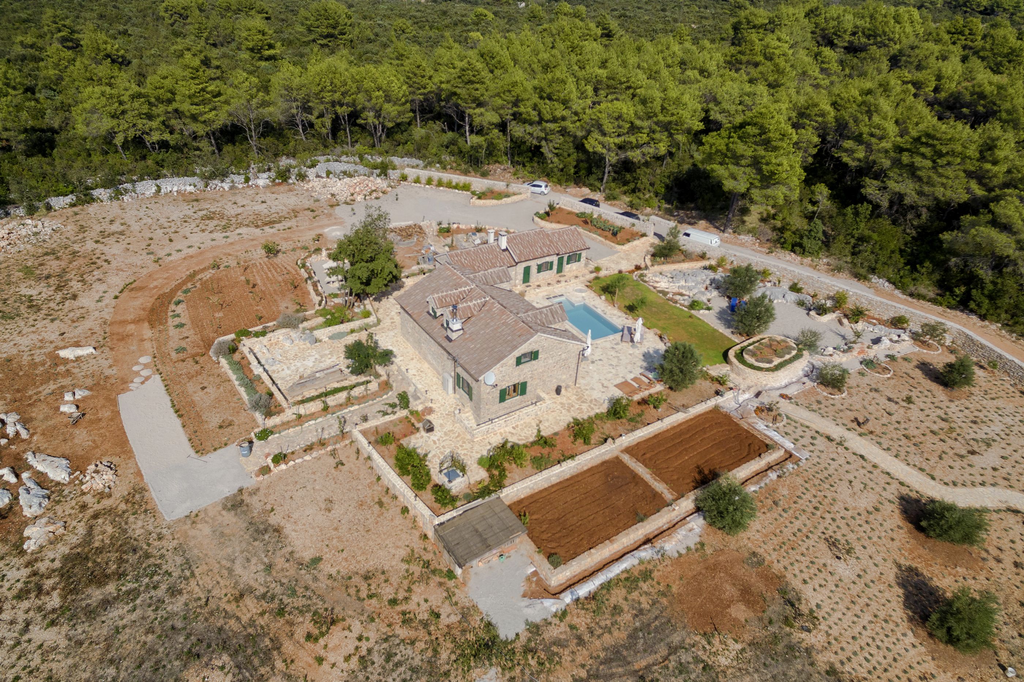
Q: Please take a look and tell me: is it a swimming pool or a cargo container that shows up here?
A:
swimming pool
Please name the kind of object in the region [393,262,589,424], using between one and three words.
house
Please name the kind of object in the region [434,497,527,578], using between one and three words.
shed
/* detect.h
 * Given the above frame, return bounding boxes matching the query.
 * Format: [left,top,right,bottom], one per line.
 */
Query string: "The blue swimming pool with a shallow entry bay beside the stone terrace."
[548,294,629,342]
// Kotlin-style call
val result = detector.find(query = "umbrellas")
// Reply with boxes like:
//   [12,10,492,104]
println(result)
[630,321,640,348]
[583,334,591,361]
